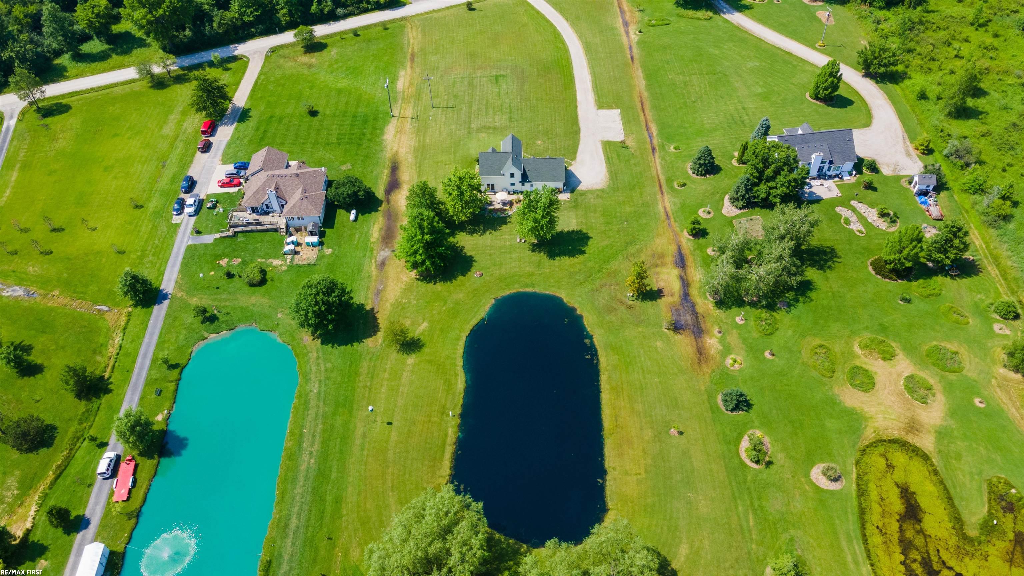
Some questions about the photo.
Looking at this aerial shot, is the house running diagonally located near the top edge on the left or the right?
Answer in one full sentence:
The house running diagonally located near the top edge appears in the right half of the scene.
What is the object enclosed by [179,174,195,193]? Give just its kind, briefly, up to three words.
car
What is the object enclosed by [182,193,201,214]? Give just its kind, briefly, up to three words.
vehicle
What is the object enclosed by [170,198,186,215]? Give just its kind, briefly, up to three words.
car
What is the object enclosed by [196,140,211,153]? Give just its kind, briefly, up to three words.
vehicle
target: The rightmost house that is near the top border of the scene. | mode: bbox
[709,0,923,175]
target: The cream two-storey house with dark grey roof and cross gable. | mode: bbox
[479,133,566,194]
